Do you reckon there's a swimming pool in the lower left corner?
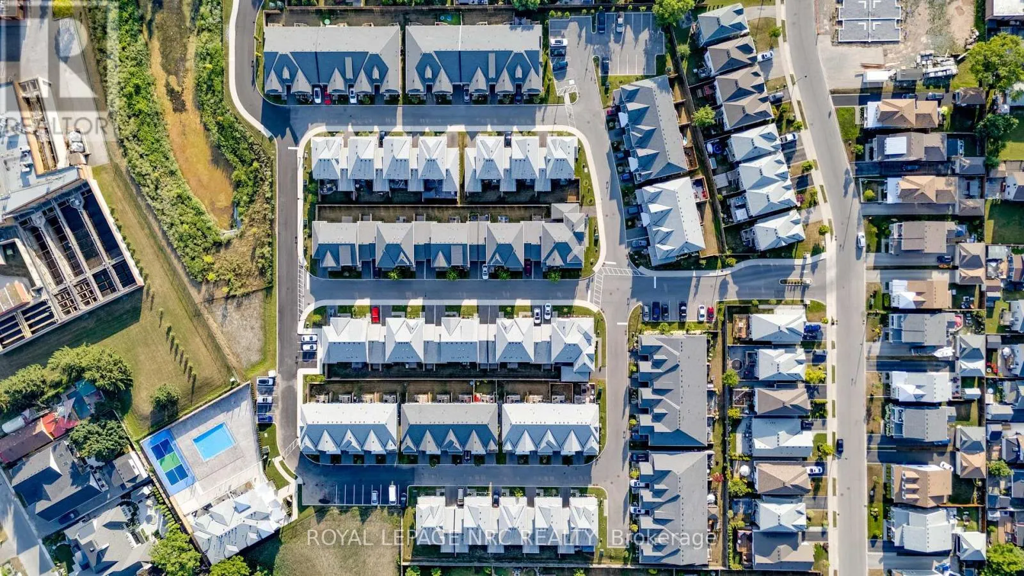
Yes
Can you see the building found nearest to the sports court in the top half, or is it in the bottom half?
bottom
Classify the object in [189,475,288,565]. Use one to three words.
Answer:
building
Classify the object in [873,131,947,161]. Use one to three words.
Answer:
house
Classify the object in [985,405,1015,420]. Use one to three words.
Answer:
shed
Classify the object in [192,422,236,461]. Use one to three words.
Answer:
swimming pool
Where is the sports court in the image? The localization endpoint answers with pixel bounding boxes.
[141,428,198,495]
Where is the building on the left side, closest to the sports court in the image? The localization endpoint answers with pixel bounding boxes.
[114,450,153,486]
